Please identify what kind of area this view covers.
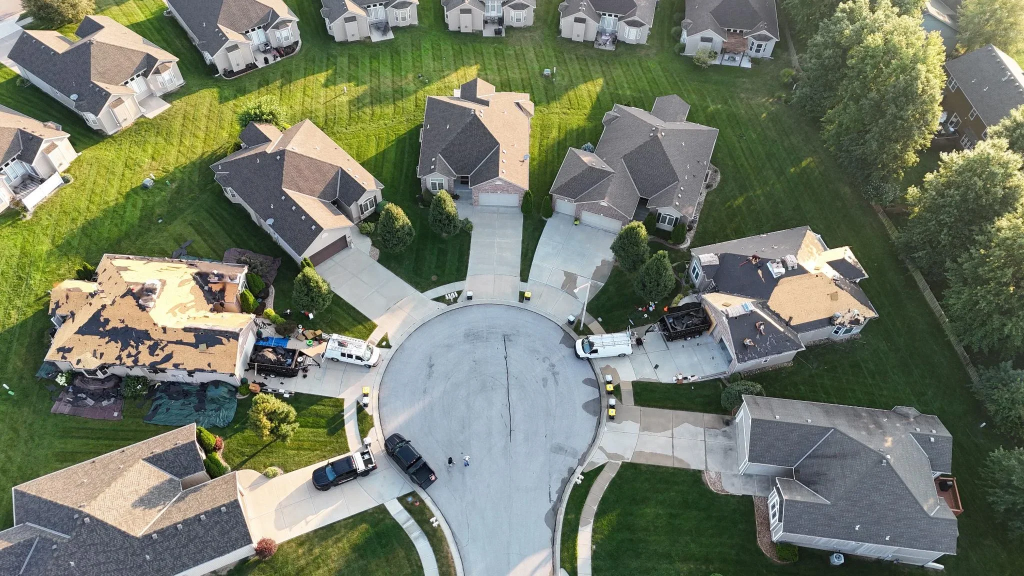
residential area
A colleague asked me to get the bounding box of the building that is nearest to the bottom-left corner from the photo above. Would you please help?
[0,422,255,576]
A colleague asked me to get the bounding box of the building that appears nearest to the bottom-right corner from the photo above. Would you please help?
[736,392,961,568]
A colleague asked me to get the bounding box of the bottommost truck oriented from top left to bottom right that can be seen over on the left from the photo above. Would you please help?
[383,429,436,494]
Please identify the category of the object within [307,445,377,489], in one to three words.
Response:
truck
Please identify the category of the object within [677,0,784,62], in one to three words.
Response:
house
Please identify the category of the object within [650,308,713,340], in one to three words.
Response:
trailer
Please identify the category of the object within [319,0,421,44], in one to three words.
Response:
house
